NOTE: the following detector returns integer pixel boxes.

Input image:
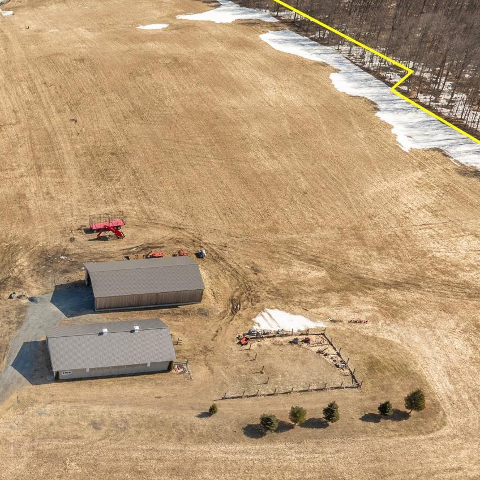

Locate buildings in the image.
[84,257,206,311]
[44,319,177,380]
